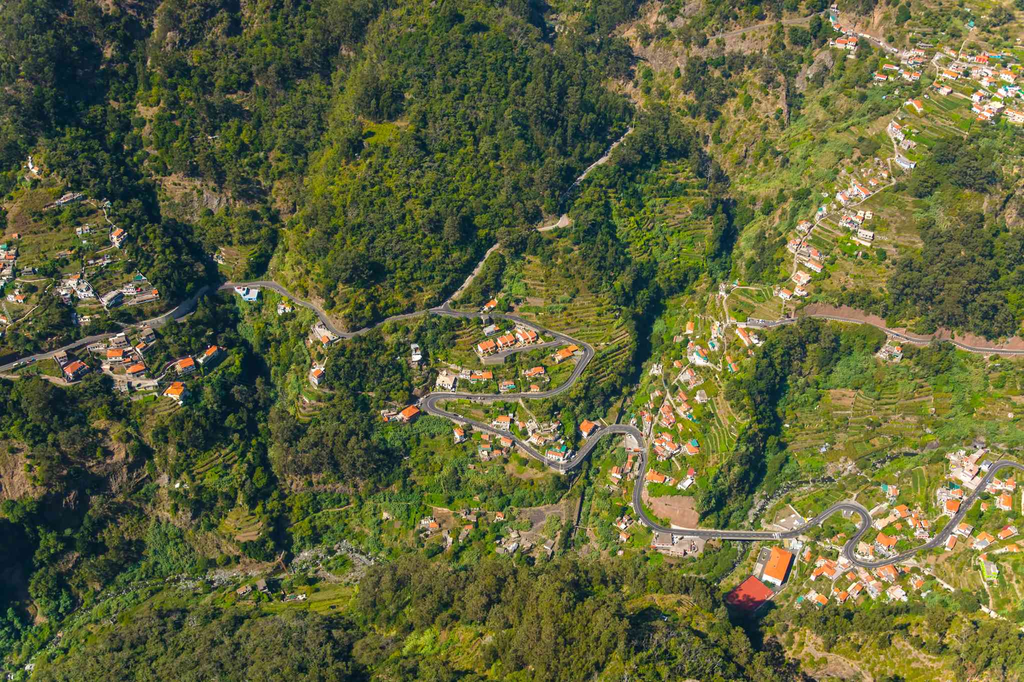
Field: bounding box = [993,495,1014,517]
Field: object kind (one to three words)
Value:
house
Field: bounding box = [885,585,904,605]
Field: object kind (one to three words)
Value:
house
